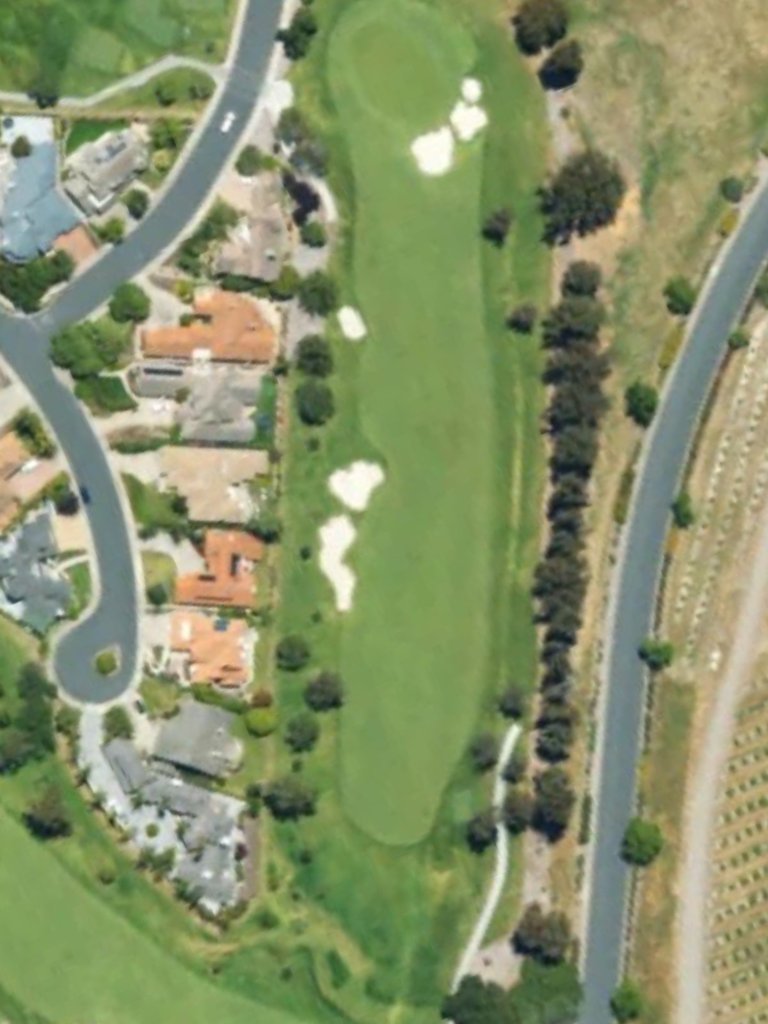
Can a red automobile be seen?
No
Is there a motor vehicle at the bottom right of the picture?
No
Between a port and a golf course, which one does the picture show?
golf course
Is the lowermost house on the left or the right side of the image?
left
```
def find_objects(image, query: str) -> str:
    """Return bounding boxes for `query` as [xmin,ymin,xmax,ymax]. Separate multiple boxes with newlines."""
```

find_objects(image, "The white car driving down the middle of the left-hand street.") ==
[219,109,236,134]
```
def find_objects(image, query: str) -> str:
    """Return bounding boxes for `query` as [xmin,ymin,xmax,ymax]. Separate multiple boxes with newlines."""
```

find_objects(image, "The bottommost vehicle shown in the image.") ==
[132,698,148,717]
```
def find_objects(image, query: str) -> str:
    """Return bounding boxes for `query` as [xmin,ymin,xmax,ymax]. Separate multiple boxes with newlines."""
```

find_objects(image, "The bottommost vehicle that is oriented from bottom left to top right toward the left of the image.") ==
[20,456,42,474]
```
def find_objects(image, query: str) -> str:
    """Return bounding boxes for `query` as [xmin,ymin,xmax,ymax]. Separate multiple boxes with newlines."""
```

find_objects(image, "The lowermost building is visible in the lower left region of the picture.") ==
[102,735,236,900]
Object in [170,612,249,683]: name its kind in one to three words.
house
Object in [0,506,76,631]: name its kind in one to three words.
house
